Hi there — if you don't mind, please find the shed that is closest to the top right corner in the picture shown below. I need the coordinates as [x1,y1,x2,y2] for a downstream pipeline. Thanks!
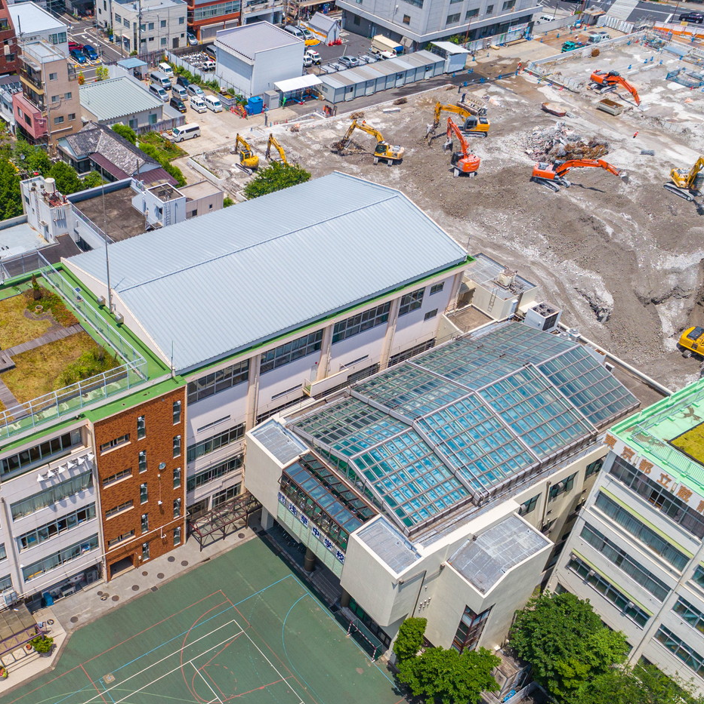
[579,1,612,25]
